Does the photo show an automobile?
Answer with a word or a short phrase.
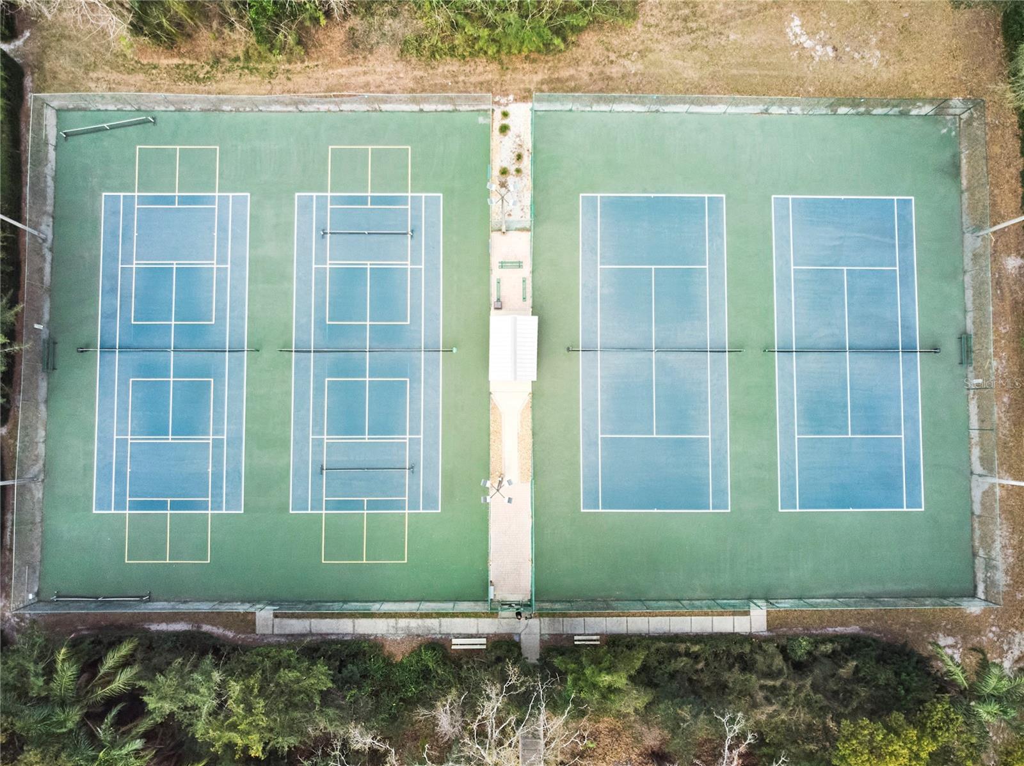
No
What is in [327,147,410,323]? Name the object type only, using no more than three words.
sports court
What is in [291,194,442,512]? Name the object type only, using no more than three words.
tennis court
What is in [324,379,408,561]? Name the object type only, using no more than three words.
sports court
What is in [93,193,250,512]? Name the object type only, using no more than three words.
tennis court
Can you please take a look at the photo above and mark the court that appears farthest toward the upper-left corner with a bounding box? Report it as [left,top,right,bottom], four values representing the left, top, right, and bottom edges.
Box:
[132,146,218,323]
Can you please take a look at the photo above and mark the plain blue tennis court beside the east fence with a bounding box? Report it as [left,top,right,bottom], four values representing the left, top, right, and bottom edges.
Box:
[772,196,924,511]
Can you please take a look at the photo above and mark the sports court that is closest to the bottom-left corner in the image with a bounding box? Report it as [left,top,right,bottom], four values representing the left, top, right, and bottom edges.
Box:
[125,379,213,562]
